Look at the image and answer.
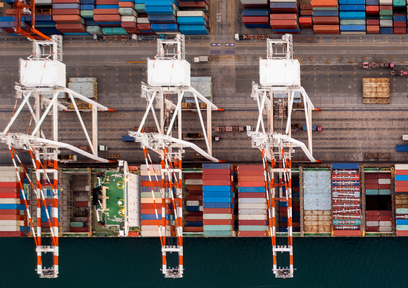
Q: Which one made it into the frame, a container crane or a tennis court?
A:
container crane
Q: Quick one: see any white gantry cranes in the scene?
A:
Yes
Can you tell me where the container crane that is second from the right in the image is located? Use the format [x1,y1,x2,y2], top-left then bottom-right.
[131,33,231,281]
